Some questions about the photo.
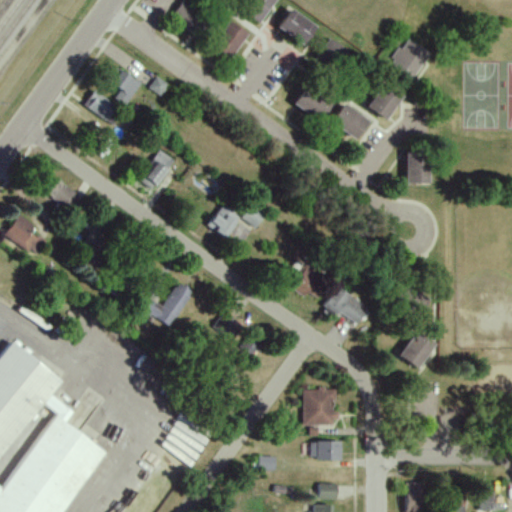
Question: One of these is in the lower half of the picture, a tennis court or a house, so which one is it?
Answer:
house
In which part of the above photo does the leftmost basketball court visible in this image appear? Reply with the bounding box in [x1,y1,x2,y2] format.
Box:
[463,62,500,130]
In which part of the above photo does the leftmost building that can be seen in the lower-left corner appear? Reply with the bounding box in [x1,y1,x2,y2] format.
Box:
[0,336,106,512]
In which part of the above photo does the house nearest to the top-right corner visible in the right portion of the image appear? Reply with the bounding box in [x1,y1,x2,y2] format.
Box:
[394,38,430,75]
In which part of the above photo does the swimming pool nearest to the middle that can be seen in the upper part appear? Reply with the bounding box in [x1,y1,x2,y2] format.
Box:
[192,174,218,196]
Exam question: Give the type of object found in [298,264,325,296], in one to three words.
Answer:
house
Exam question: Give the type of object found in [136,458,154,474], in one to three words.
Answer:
vehicle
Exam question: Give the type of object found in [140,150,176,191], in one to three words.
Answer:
house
